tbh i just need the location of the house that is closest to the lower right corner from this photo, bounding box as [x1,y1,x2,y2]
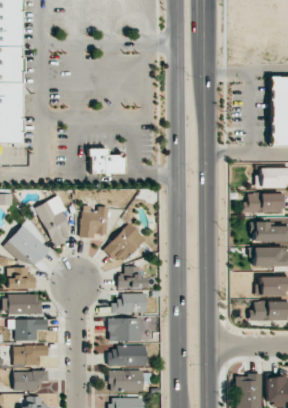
[267,376,288,408]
